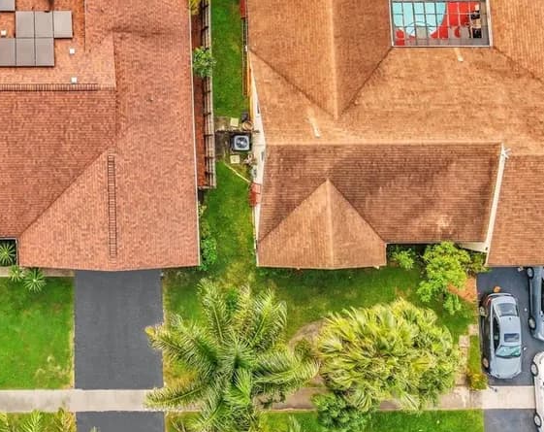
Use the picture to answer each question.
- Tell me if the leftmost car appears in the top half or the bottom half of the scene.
bottom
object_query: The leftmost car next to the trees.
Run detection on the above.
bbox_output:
[472,289,528,380]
